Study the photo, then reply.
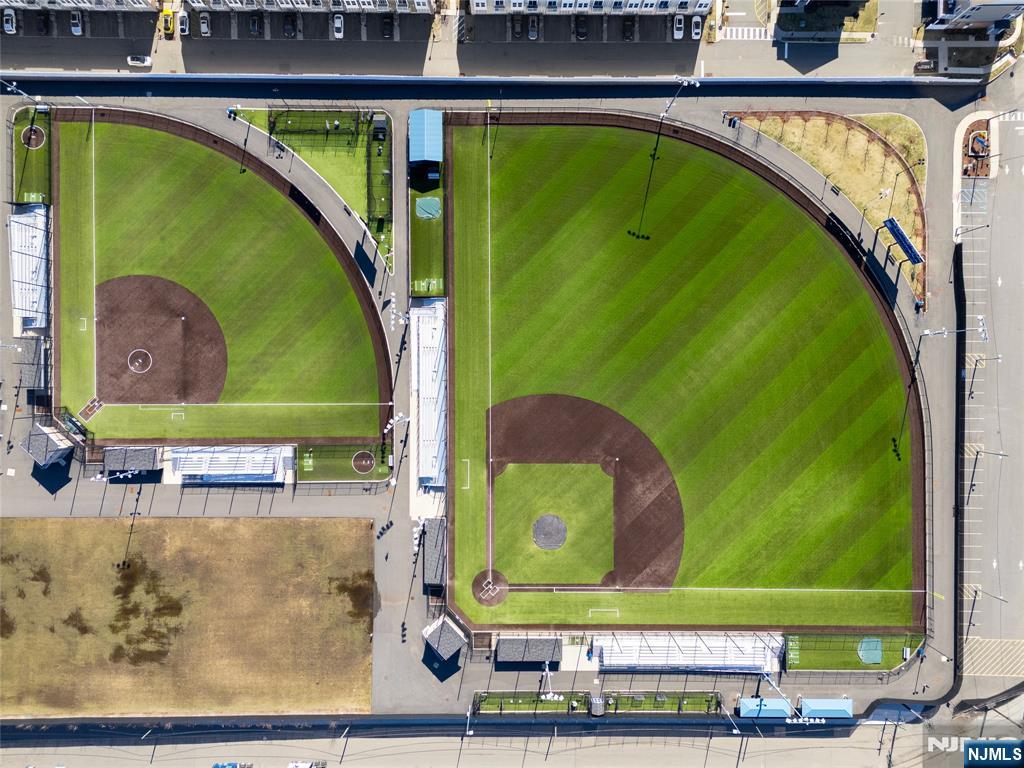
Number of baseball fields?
two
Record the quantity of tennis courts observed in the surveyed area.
0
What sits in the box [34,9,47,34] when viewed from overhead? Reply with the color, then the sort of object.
black vehicle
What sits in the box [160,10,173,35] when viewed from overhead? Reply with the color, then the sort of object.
yellow vehicle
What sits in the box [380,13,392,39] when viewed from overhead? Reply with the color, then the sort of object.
black vehicle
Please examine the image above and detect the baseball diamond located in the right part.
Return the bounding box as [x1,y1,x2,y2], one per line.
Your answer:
[447,108,926,631]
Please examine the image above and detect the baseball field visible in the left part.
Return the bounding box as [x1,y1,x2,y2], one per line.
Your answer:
[52,107,392,446]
